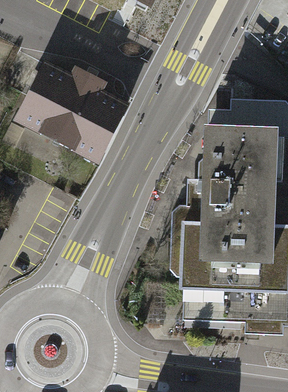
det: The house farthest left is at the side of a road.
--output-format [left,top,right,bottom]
[14,62,122,165]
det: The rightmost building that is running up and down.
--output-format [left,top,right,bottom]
[171,89,288,334]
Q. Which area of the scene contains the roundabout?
bottom left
